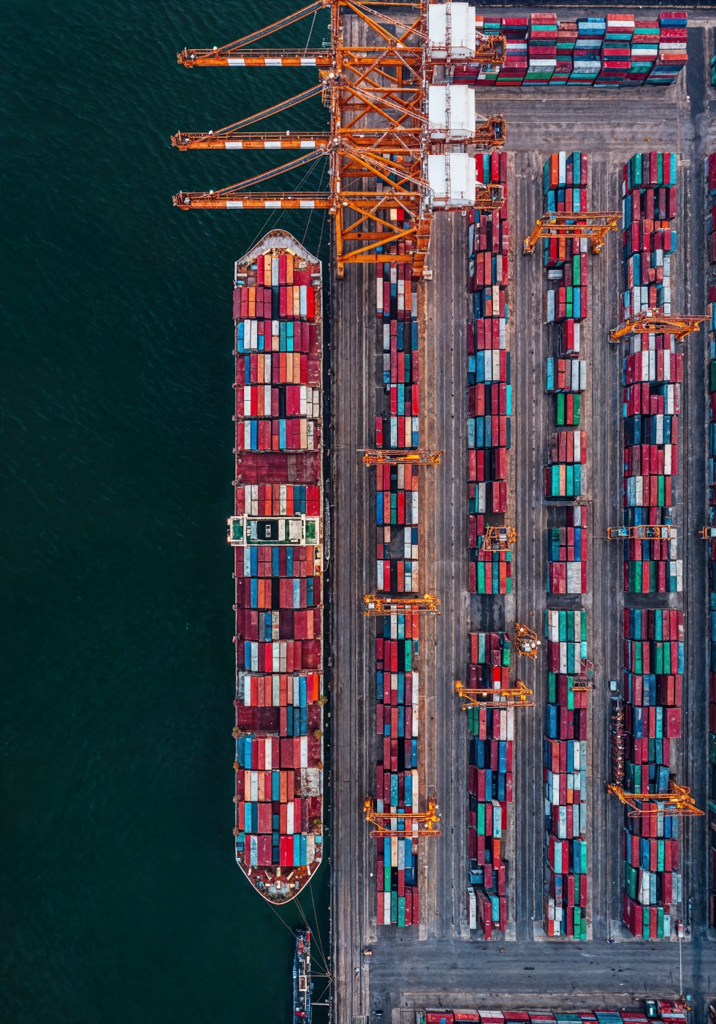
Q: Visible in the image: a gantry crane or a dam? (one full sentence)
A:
This aerial view contains a gantry crane.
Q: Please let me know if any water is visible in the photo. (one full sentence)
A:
Yes, there is water in the image.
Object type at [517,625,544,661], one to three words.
work vehicle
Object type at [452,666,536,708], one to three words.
crane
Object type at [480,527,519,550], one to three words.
crane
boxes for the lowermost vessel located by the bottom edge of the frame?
[292,923,313,1024]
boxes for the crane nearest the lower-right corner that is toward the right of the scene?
[611,768,707,818]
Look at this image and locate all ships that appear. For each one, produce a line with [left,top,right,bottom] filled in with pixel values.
[292,923,313,1024]
[226,229,327,904]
